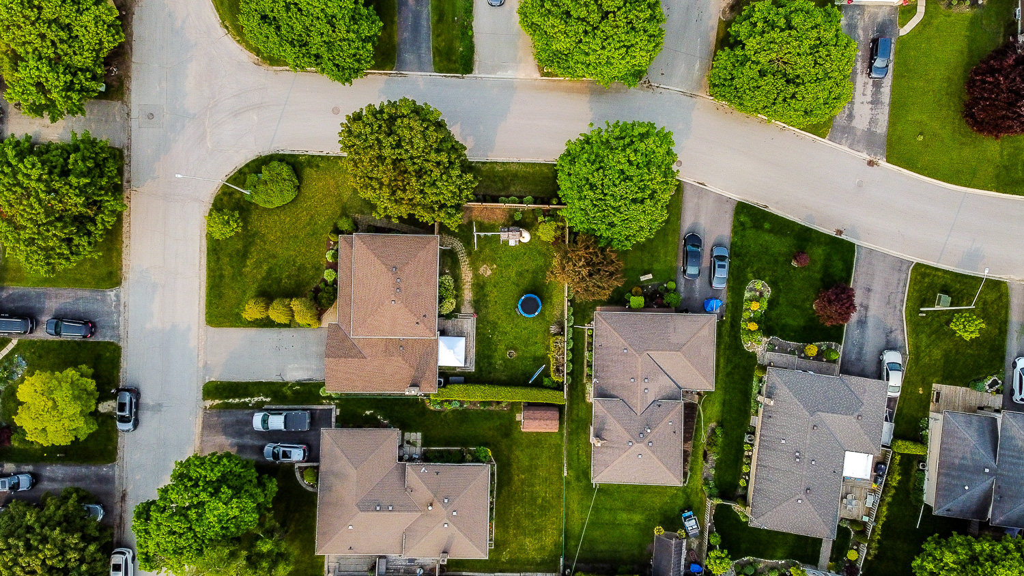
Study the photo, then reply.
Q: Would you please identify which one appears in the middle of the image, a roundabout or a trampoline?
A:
trampoline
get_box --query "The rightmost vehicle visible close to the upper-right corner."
[865,34,891,81]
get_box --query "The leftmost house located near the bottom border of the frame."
[315,427,490,565]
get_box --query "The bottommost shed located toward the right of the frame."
[651,531,686,576]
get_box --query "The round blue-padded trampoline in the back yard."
[516,293,542,318]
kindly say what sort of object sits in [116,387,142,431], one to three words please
car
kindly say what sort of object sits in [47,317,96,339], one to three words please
car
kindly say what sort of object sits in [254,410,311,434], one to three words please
truck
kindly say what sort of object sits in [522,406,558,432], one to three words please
shed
